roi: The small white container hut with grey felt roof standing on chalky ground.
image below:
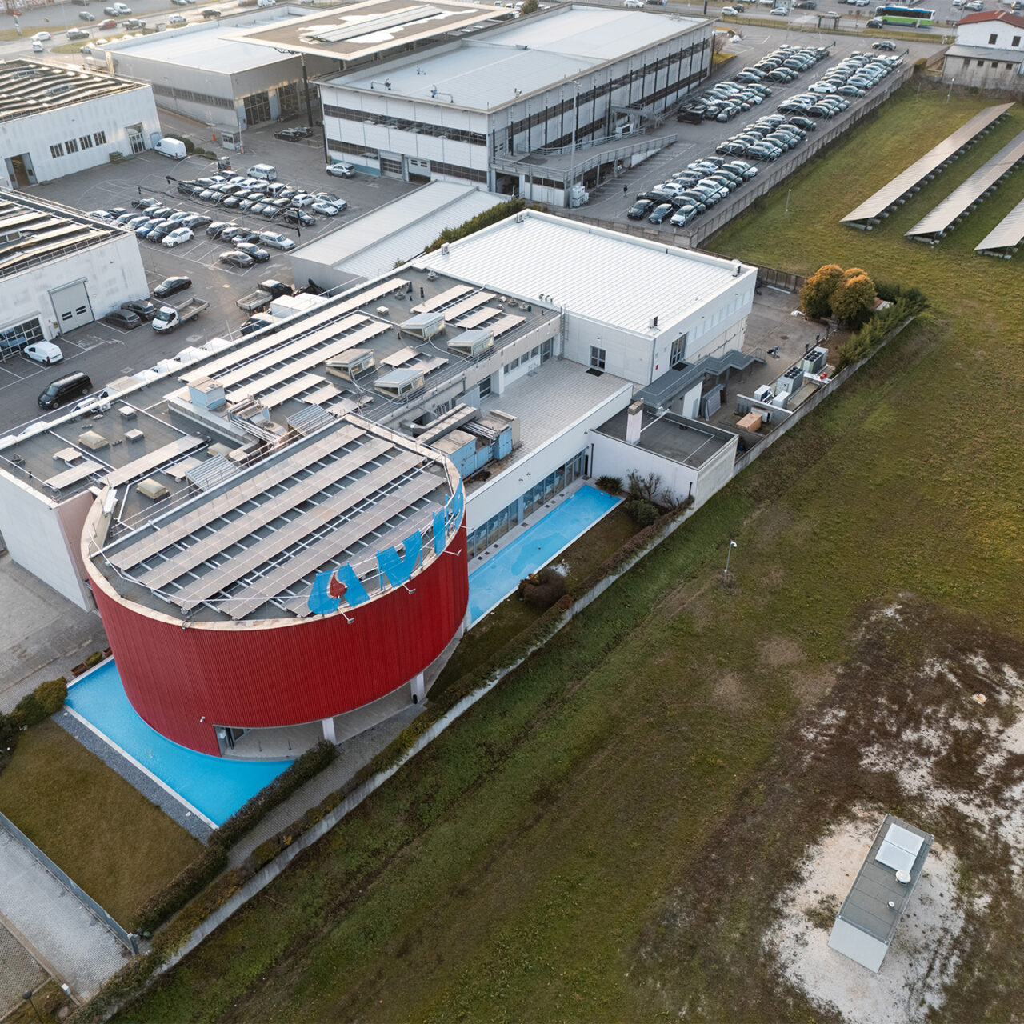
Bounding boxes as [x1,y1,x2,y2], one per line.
[824,814,940,969]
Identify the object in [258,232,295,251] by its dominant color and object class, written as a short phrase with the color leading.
gray car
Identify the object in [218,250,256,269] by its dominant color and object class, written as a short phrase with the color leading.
gray car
